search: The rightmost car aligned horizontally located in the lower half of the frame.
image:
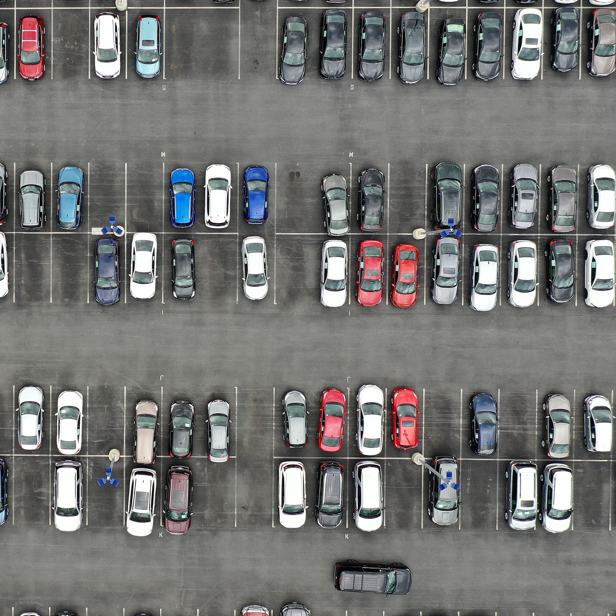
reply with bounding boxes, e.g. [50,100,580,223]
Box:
[333,561,413,600]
